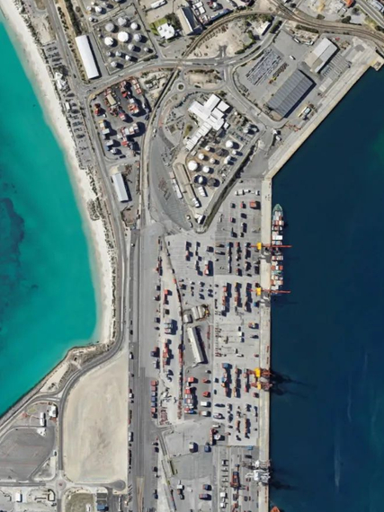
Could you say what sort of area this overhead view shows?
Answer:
port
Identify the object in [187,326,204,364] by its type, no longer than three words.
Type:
building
